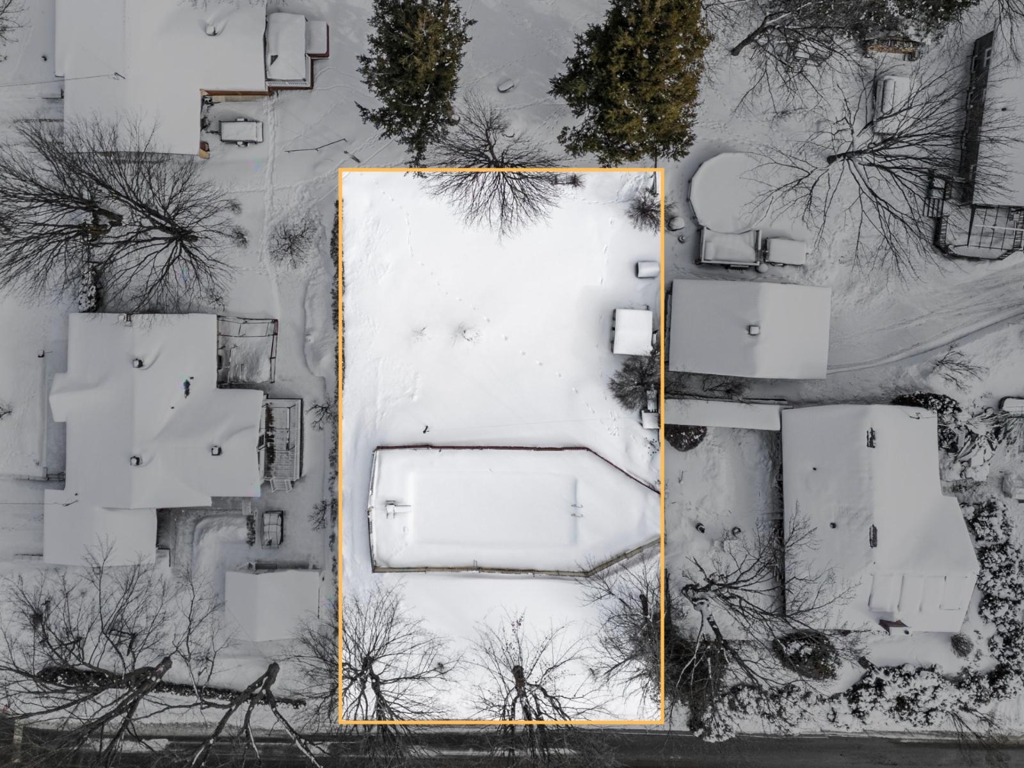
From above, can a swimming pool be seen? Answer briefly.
Yes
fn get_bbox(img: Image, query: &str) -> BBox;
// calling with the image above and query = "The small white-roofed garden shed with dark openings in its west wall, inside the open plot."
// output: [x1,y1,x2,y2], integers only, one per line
[611,309,653,354]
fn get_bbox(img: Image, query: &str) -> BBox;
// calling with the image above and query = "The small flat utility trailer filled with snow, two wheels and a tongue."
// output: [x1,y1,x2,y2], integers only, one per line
[206,117,264,145]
